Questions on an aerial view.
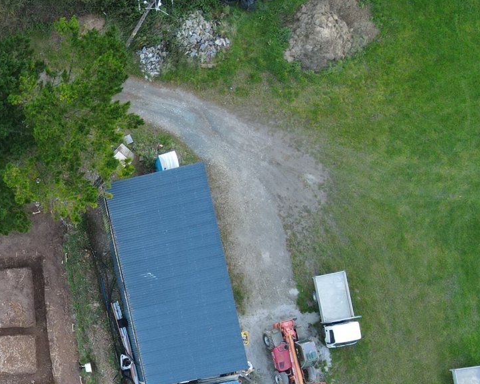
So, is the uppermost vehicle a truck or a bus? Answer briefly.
truck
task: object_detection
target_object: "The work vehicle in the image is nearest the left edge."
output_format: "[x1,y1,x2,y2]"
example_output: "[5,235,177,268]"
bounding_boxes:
[260,318,325,384]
